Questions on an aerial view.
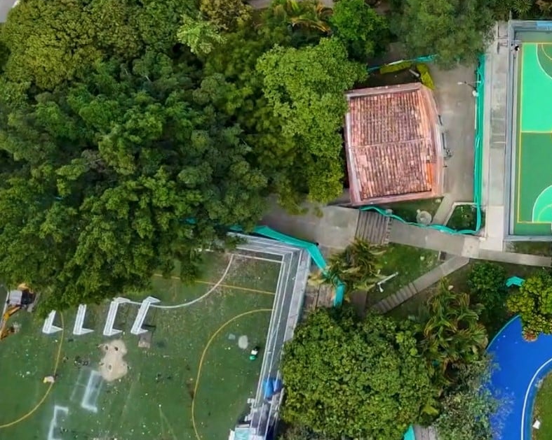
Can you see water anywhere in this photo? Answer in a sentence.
No, the scene doesn't show any water.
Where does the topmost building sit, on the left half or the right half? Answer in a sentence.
The topmost building sits on the right side.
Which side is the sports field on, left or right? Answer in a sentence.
You can find the sports field on the left side of the picture.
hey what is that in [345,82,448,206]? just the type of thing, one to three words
building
